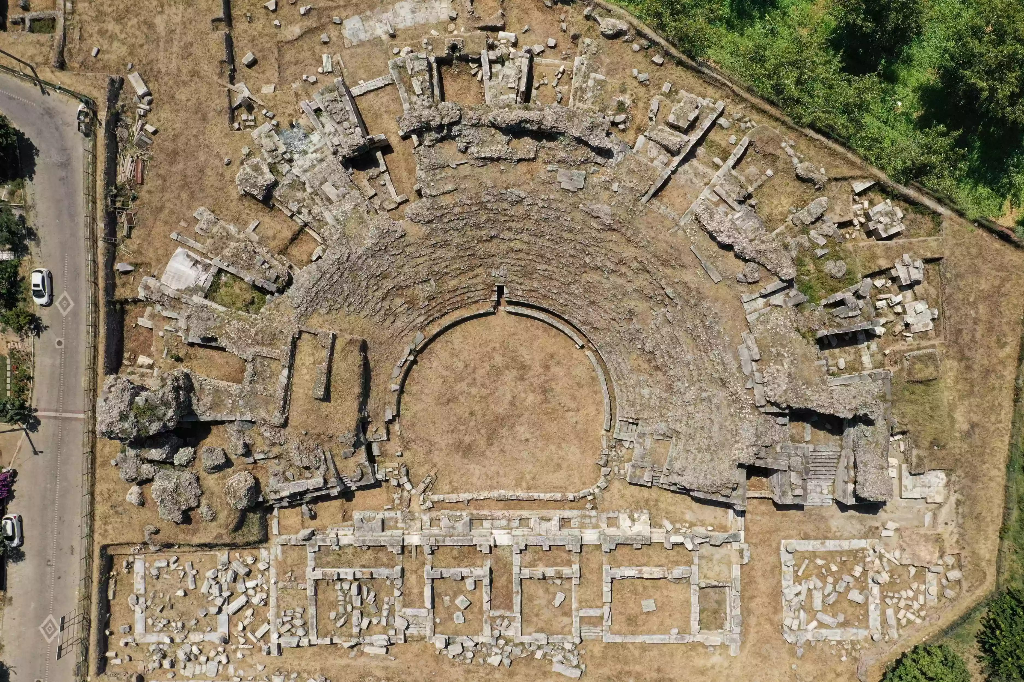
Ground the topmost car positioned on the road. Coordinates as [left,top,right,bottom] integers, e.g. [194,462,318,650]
[31,268,56,307]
